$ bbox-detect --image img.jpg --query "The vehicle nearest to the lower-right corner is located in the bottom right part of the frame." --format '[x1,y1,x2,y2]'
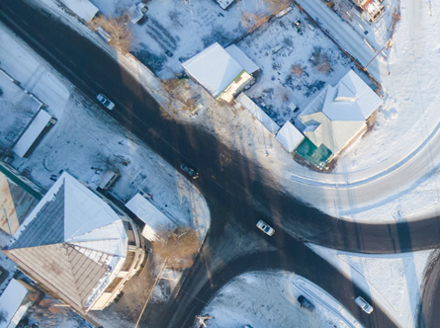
[354,297,372,313]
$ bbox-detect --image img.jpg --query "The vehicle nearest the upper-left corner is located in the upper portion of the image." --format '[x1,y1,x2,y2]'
[94,93,112,108]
